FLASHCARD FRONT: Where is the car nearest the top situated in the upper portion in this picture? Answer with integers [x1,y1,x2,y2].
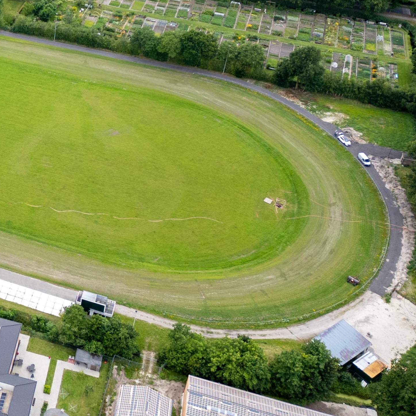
[335,131,352,148]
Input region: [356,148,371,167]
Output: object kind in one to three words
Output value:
vehicle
